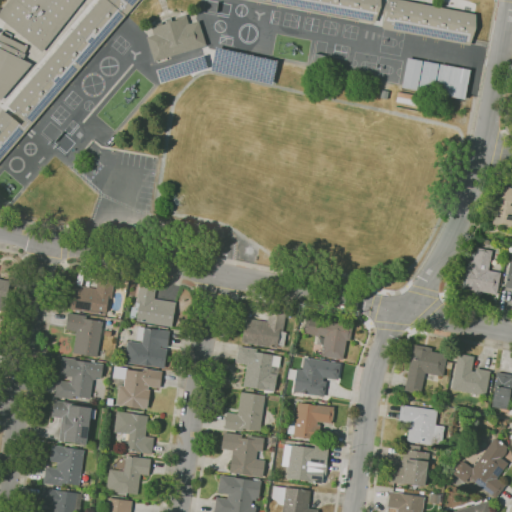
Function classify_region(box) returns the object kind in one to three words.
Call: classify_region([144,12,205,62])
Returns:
building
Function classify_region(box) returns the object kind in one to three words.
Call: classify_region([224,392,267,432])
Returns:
house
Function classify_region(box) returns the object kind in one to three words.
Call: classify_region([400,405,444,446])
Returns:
house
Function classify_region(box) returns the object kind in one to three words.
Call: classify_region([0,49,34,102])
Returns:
building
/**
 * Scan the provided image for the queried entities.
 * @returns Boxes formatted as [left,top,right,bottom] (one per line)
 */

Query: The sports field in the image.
[156,69,464,291]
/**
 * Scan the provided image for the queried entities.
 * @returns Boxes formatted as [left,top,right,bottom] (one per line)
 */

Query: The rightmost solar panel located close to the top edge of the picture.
[394,22,469,42]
